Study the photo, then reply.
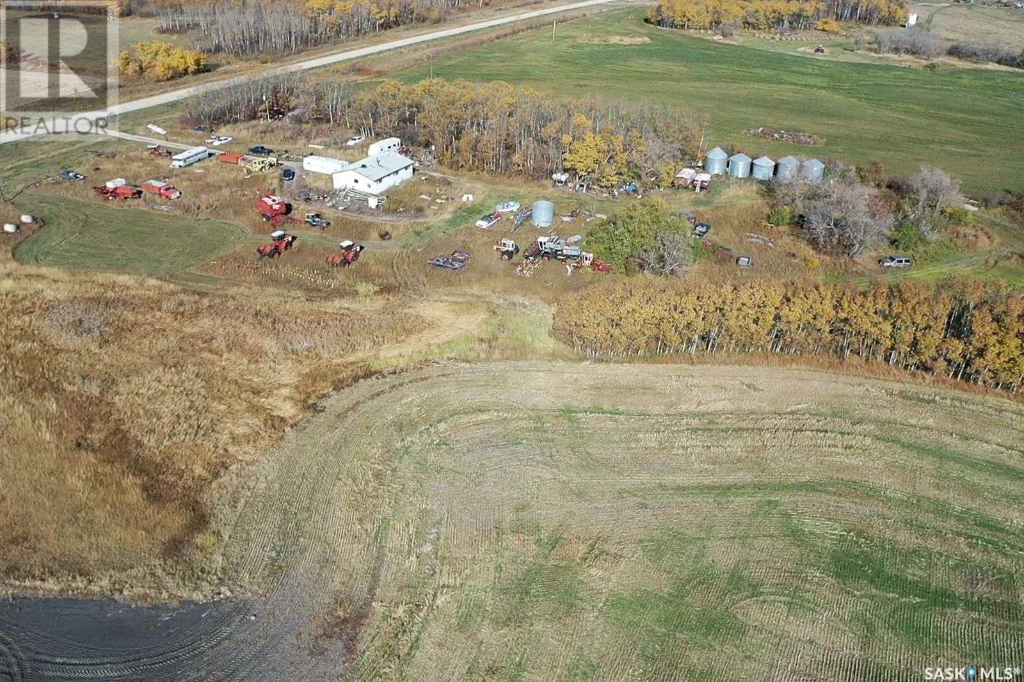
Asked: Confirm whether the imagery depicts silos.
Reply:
Yes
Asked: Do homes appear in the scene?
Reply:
Yes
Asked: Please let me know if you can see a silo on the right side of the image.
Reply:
Yes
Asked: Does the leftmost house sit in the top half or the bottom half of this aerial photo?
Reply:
top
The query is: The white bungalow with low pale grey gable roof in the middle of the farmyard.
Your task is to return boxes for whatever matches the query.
[327,150,416,197]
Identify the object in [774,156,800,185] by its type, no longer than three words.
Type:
silo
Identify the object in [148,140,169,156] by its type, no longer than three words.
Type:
work vehicle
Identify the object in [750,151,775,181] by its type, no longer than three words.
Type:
silo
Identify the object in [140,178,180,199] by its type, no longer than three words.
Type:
truck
